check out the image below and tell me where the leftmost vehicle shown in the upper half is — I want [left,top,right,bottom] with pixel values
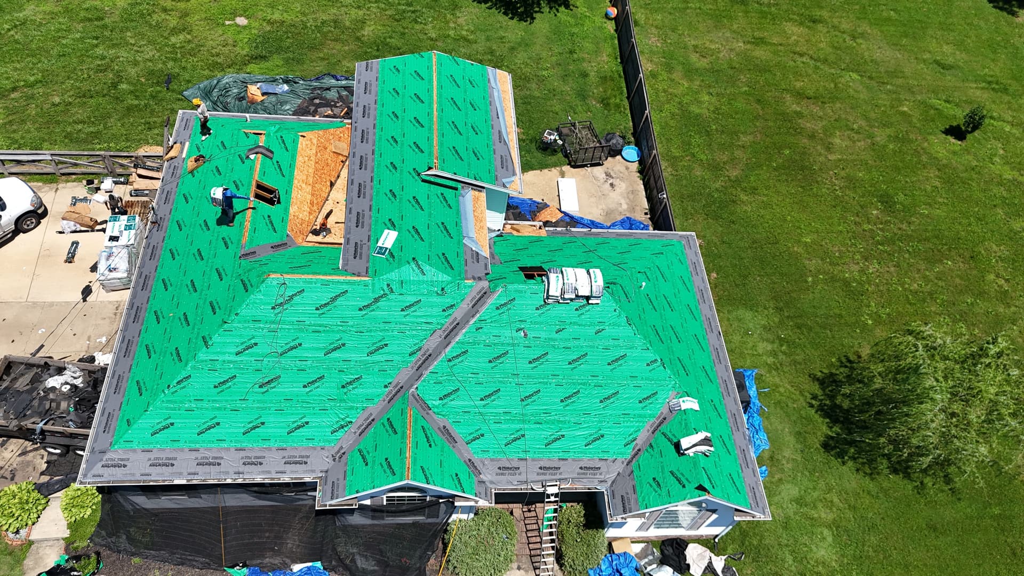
[0,185,49,238]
